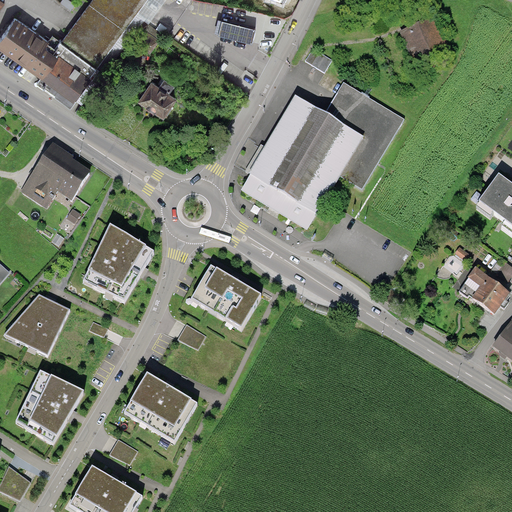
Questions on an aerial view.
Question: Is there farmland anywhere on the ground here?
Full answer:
Yes, farmland can be seen from above here.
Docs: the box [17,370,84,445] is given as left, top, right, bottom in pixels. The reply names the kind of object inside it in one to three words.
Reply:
building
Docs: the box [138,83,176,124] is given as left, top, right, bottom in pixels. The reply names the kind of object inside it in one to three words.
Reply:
house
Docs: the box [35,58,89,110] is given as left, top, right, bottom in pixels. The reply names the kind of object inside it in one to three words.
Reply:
house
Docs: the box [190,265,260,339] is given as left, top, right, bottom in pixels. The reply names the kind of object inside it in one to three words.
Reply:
building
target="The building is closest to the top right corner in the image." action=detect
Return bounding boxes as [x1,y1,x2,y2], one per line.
[400,21,442,54]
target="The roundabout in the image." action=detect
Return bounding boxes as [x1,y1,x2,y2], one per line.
[160,176,228,244]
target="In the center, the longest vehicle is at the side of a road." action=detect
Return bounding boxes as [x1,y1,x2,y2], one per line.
[200,228,232,244]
